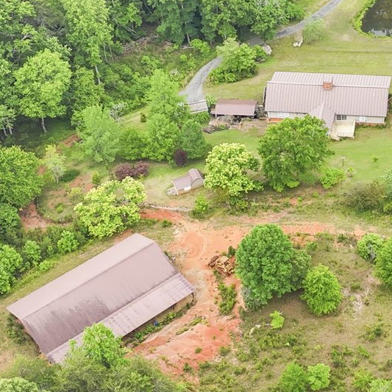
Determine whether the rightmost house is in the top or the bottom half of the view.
top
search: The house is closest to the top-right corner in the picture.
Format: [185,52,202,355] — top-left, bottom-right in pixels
[264,71,390,144]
